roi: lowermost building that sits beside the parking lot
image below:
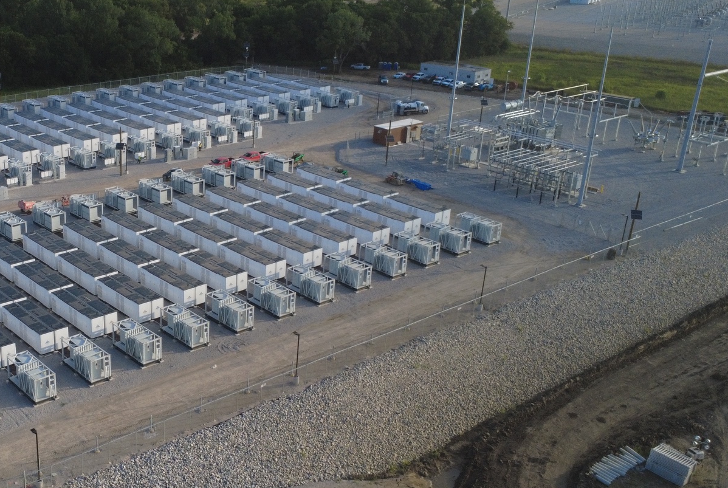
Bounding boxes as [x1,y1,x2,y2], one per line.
[373,116,428,148]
